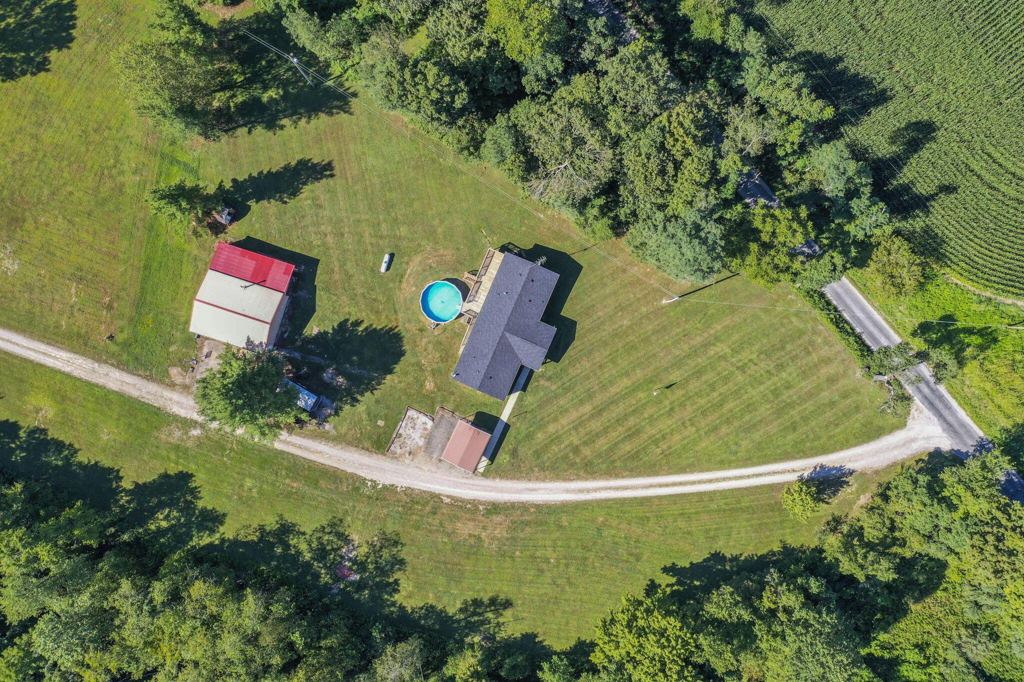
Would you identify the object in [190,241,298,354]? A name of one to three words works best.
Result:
barn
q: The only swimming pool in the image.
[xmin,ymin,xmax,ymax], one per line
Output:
[420,280,463,323]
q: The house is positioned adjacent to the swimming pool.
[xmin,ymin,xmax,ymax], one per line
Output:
[450,247,560,401]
